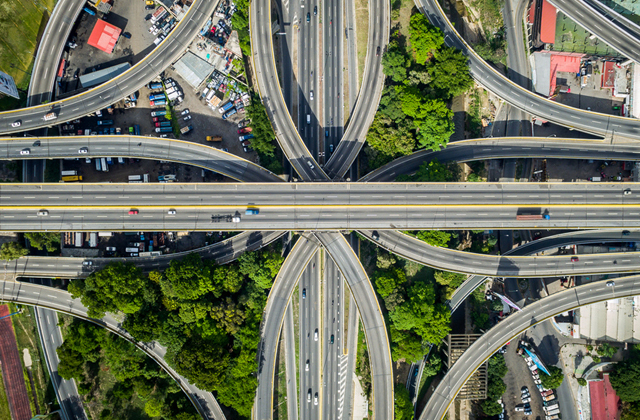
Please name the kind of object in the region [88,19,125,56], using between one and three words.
building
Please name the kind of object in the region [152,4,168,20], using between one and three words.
vehicle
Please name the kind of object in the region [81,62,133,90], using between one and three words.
shed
